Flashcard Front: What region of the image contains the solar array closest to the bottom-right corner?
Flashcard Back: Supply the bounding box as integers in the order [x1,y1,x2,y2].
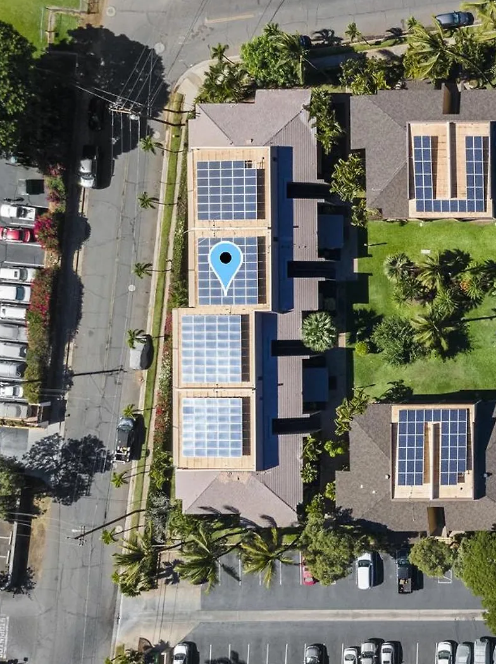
[399,410,468,485]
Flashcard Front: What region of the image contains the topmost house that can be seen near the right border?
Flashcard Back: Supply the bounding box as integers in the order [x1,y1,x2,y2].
[352,79,496,224]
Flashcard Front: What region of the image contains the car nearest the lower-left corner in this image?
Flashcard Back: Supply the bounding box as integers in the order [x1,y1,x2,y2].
[173,640,193,664]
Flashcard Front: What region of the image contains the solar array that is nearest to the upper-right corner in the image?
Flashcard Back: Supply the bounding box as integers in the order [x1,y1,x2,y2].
[414,136,484,212]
